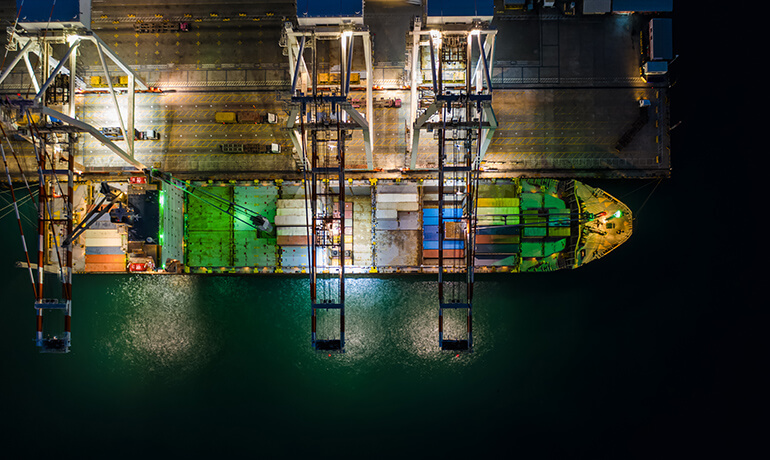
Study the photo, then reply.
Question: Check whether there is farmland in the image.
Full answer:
No, the picture contains no farmland.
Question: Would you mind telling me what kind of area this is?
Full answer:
What you see here is a port.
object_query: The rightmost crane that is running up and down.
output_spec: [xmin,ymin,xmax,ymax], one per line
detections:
[396,0,500,355]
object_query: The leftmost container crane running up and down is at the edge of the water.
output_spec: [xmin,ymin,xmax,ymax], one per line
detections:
[0,0,162,354]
